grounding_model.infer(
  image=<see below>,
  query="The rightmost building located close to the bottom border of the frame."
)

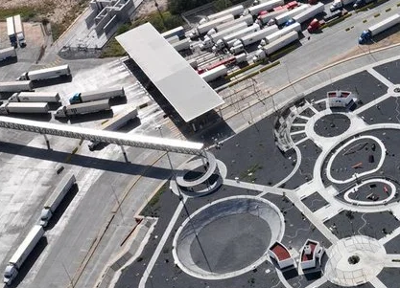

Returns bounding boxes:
[299,237,319,274]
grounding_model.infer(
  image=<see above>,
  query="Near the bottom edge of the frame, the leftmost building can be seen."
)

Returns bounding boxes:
[267,242,291,274]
